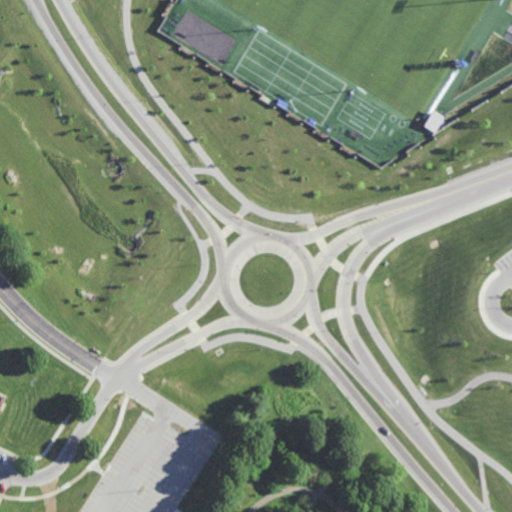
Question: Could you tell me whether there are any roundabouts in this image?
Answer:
Yes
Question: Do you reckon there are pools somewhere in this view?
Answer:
No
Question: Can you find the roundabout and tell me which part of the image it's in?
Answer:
center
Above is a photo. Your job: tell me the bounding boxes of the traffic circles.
[218,231,310,328]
